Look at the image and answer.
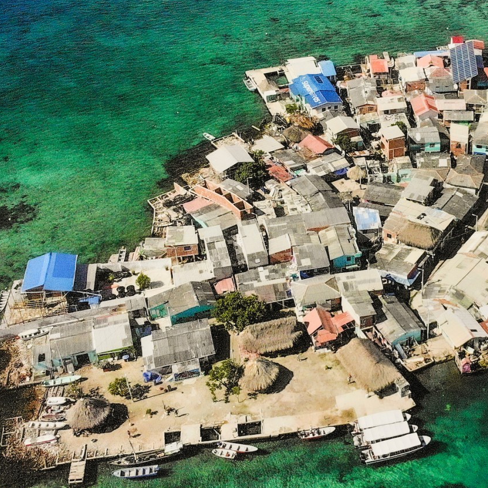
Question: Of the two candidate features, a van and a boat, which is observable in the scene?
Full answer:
This aerial view contains a boat.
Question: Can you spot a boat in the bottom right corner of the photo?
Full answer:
Yes, I can see a boat in the bottom right corner of the photo.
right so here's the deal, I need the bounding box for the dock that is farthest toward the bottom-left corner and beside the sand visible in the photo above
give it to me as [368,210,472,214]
[68,458,87,487]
